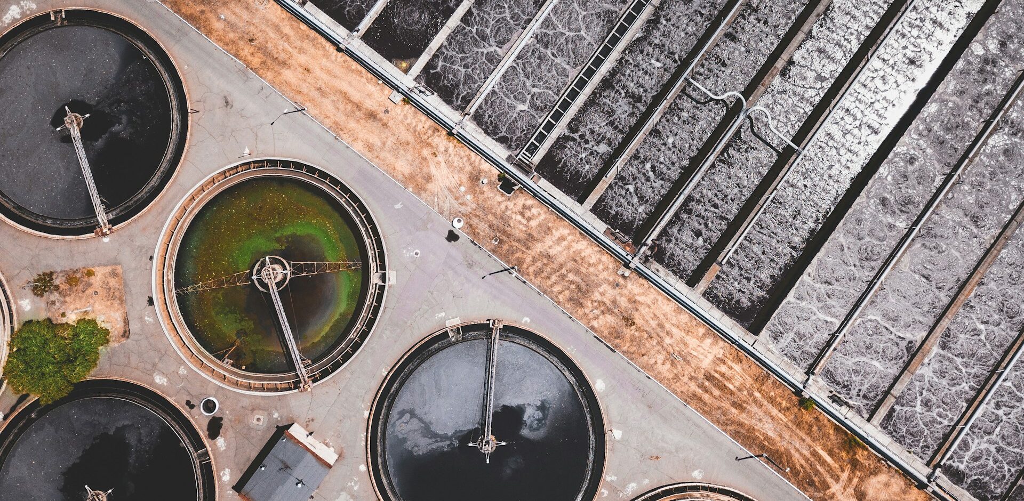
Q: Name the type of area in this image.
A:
industrial area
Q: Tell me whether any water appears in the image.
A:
Yes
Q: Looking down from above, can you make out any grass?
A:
Yes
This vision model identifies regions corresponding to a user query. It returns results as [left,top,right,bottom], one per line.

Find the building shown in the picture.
[235,421,340,501]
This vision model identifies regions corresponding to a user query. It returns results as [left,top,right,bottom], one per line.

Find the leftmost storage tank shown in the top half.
[0,7,193,238]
